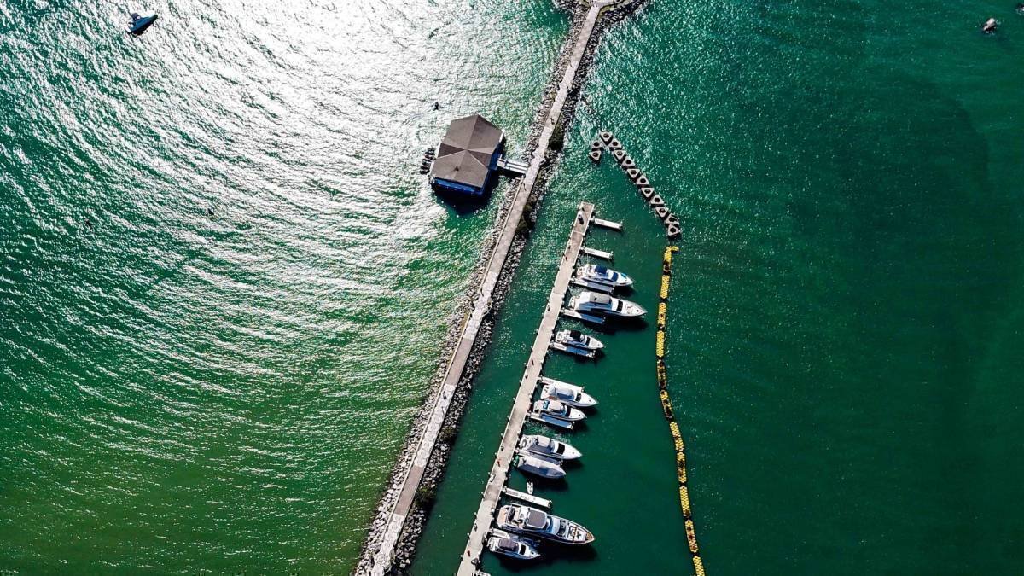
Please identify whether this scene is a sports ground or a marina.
marina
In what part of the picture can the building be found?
top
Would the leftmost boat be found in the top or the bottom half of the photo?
top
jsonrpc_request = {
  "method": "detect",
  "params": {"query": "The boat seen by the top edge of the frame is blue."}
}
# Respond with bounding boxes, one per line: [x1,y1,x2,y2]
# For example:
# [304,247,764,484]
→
[125,14,158,36]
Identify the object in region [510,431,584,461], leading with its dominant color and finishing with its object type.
white boat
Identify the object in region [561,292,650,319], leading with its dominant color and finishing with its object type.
white boat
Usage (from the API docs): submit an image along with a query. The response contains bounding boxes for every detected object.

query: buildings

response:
[431,115,506,197]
